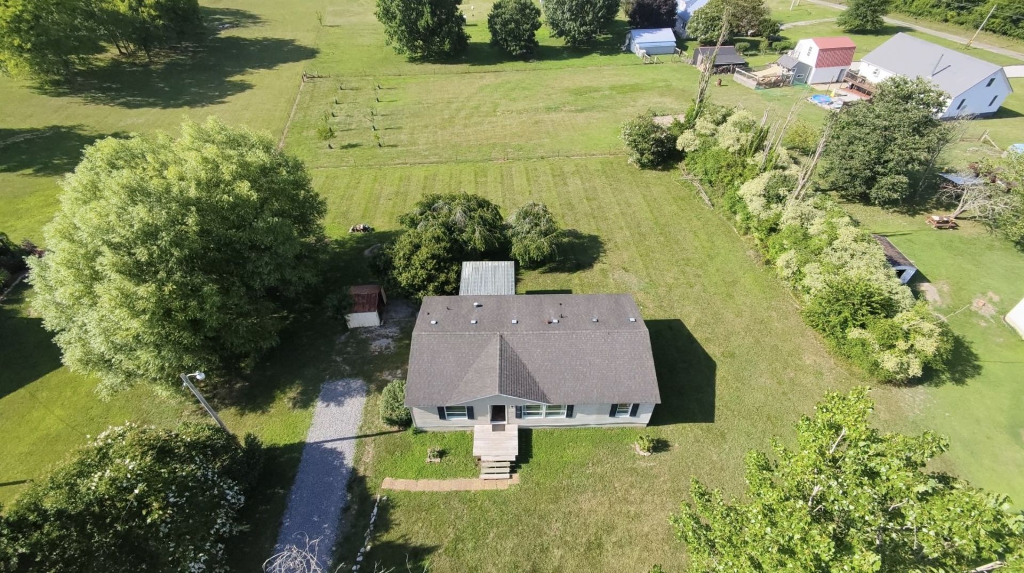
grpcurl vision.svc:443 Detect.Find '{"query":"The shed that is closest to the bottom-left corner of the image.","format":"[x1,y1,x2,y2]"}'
[344,288,391,327]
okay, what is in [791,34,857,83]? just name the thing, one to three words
barn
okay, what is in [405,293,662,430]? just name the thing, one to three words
house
